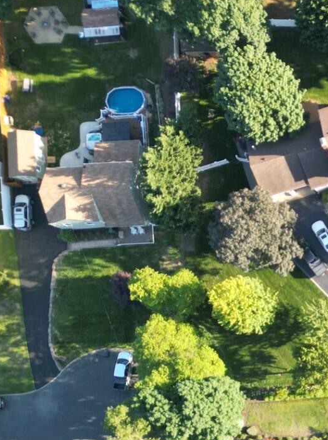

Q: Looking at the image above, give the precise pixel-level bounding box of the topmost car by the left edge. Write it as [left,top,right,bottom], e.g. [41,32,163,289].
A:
[13,195,34,231]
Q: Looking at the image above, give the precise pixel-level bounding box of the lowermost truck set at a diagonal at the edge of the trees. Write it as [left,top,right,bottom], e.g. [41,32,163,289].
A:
[296,242,328,283]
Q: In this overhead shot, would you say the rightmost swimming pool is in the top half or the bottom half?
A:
top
